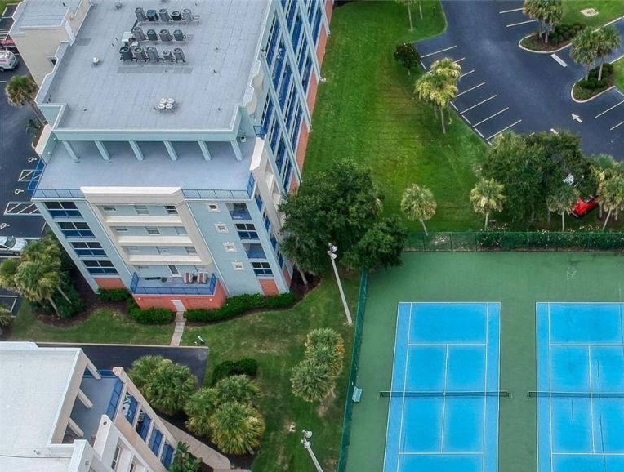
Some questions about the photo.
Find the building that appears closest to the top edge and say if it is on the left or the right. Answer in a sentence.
It is on the left.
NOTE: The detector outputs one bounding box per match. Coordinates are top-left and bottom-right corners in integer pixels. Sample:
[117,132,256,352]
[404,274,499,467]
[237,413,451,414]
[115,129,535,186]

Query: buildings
[7,0,333,312]
[0,346,182,472]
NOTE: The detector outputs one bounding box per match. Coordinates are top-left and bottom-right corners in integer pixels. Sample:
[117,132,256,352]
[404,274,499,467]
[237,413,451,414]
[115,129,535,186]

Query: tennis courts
[518,255,624,472]
[345,255,518,472]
